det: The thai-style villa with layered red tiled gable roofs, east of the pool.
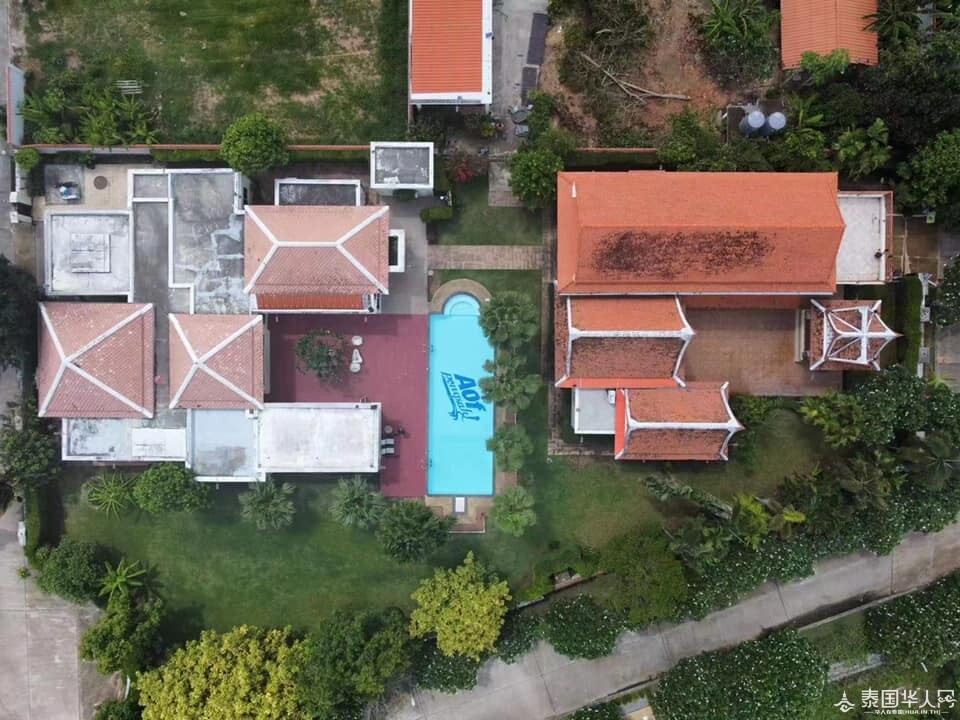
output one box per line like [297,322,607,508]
[556,172,895,465]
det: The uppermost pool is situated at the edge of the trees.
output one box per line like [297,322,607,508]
[424,280,496,497]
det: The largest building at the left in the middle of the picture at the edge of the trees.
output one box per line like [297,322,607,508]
[36,169,408,487]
